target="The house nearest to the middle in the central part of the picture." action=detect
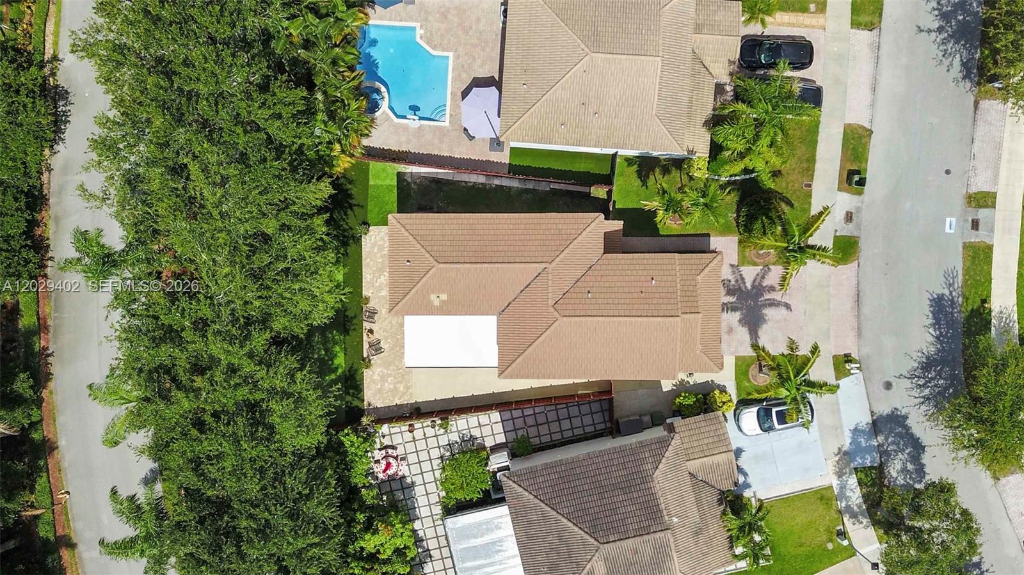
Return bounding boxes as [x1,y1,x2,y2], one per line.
[386,211,724,381]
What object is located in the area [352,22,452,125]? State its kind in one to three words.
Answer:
swimming pool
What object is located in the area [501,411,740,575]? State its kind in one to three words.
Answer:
house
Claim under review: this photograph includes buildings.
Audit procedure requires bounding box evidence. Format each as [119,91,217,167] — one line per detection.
[501,411,740,575]
[386,211,724,381]
[499,0,740,160]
